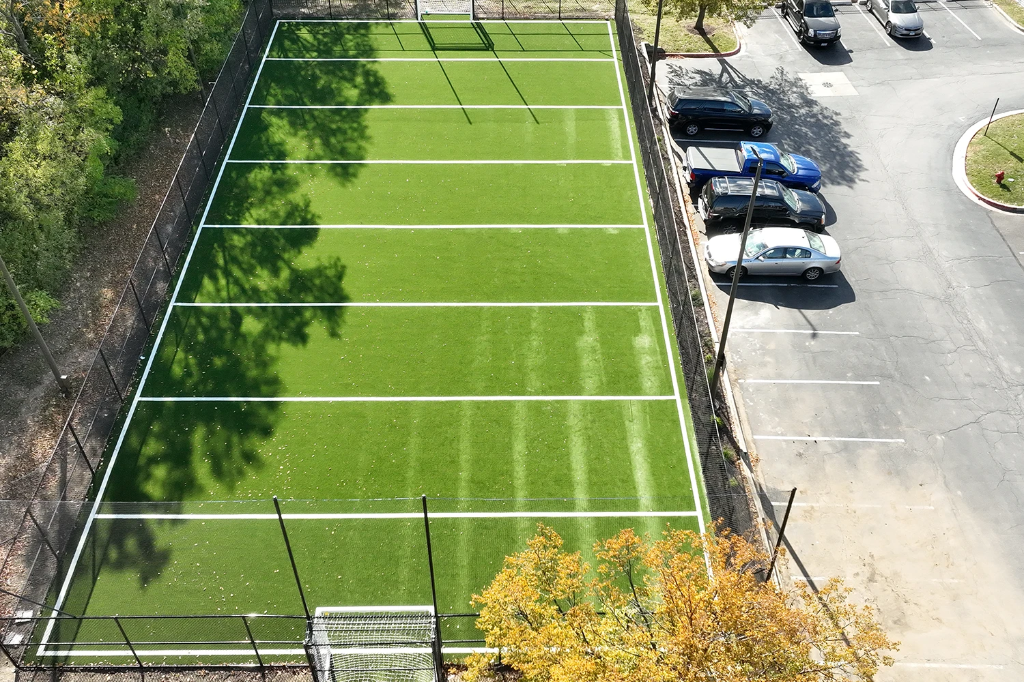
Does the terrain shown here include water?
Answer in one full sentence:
No, no water is visible.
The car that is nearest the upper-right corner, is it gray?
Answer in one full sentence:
Yes, gray is the color of the car that is nearest the upper-right corner.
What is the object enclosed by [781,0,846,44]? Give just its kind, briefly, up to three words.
car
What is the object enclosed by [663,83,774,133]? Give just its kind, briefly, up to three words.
car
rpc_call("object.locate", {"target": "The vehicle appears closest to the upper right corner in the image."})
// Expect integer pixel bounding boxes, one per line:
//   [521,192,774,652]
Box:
[870,0,932,36]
